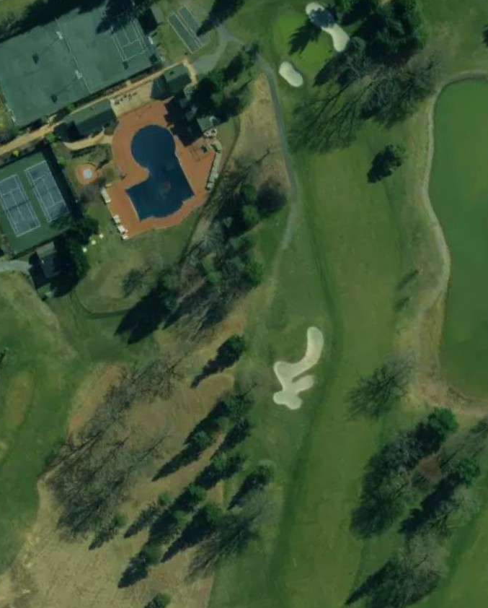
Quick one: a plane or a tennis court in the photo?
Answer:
tennis court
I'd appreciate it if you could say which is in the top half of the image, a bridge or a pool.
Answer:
pool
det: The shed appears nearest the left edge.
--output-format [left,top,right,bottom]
[27,250,60,287]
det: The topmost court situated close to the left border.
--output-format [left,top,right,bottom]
[0,0,161,127]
